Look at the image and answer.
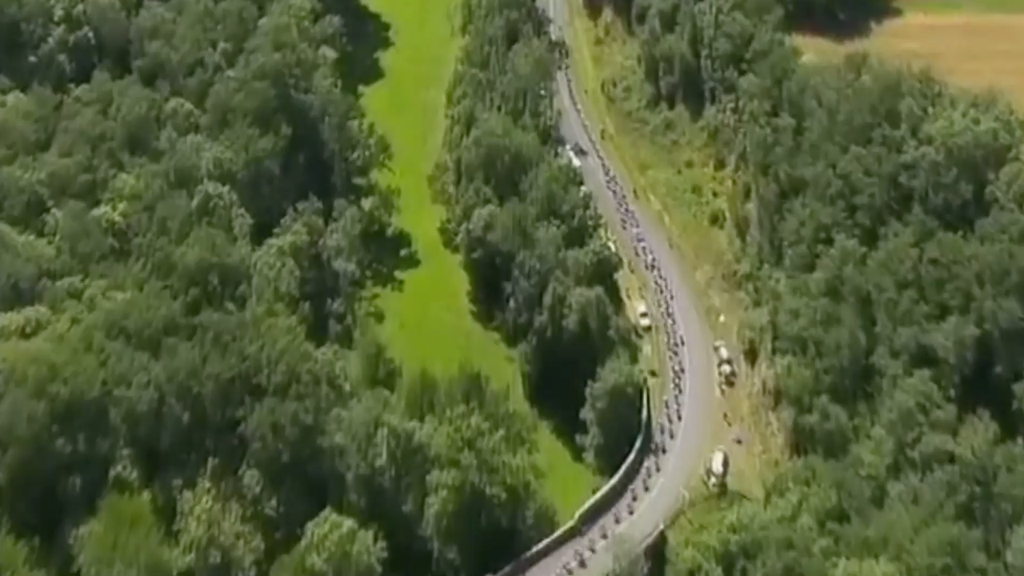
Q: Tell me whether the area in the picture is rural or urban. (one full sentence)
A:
The area is rural.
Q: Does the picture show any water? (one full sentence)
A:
No, the picture contains no water.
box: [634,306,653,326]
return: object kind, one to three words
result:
car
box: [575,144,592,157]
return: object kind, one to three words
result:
vehicle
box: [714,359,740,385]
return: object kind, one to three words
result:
car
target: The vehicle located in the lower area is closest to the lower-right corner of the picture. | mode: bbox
[708,449,729,488]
